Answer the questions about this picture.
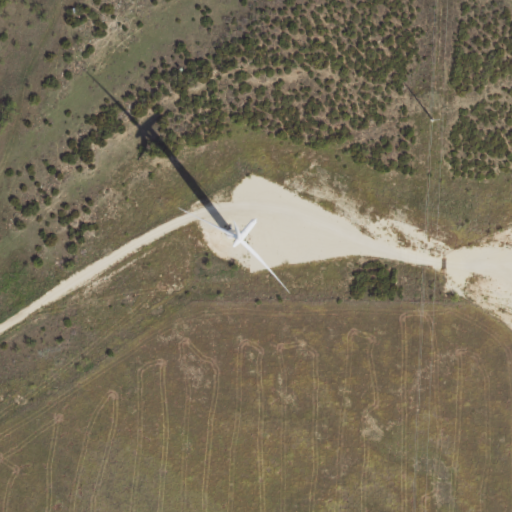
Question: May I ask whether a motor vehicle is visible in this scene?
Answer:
No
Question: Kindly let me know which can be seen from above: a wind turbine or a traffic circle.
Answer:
wind turbine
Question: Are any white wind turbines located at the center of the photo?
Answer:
Yes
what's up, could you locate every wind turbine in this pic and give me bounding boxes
[186,208,293,288]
